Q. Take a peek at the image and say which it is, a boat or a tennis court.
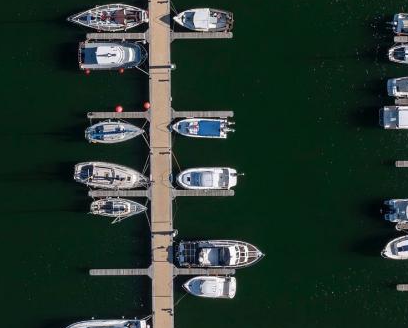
boat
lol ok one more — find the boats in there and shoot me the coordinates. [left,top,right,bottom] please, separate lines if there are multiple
[175,272,237,308]
[387,76,408,98]
[378,105,408,128]
[173,153,241,190]
[74,155,152,196]
[91,195,151,229]
[171,1,235,34]
[389,41,408,64]
[387,198,408,222]
[66,4,149,35]
[86,117,149,148]
[79,39,149,73]
[390,13,408,37]
[64,313,152,328]
[171,117,231,138]
[175,238,264,268]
